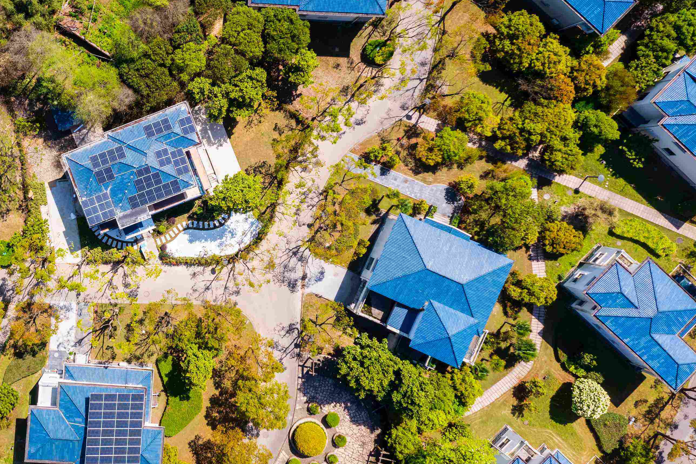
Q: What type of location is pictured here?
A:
residential area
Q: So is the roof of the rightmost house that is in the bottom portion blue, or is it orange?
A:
blue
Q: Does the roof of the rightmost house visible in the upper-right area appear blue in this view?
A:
Yes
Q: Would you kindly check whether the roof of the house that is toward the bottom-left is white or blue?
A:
blue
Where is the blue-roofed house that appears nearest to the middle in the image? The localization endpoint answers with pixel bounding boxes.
[343,212,516,370]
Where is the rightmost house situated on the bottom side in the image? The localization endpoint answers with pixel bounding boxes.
[549,240,696,395]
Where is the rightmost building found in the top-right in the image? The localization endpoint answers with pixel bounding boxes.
[614,56,696,189]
